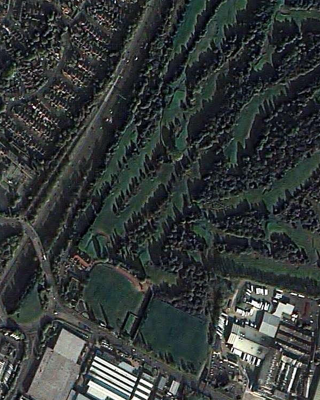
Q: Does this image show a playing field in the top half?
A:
No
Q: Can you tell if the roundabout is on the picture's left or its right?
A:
left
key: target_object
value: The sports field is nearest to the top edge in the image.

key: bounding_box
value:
[85,264,143,330]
